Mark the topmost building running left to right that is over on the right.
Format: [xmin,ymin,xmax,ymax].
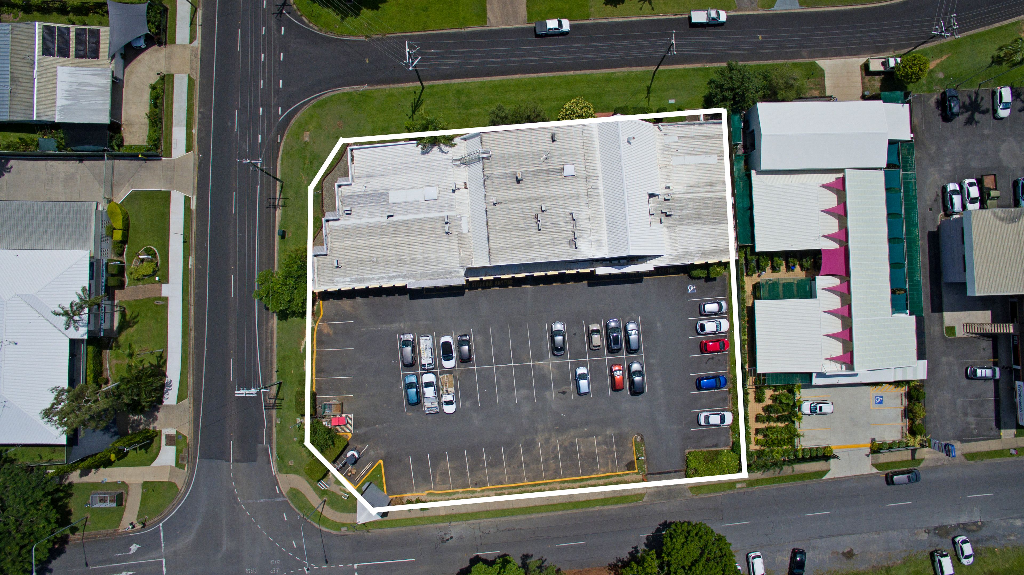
[747,101,911,173]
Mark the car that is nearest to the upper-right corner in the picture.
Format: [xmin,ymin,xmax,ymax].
[991,87,1011,120]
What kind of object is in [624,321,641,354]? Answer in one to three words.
car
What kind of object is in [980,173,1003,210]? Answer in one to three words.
truck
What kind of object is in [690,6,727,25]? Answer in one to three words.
vehicle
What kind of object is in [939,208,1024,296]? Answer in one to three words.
building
